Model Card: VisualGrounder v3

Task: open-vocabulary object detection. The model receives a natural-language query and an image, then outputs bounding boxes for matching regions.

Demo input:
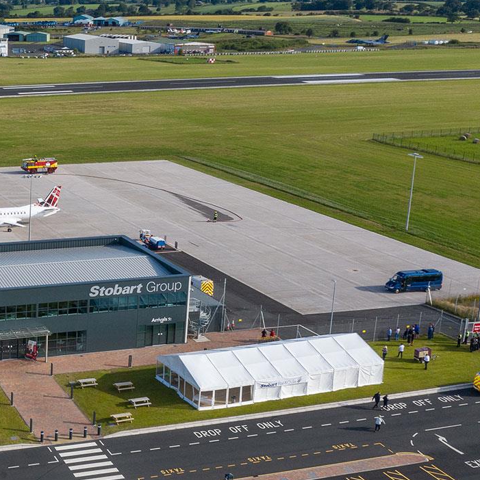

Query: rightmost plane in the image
[352,33,391,46]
